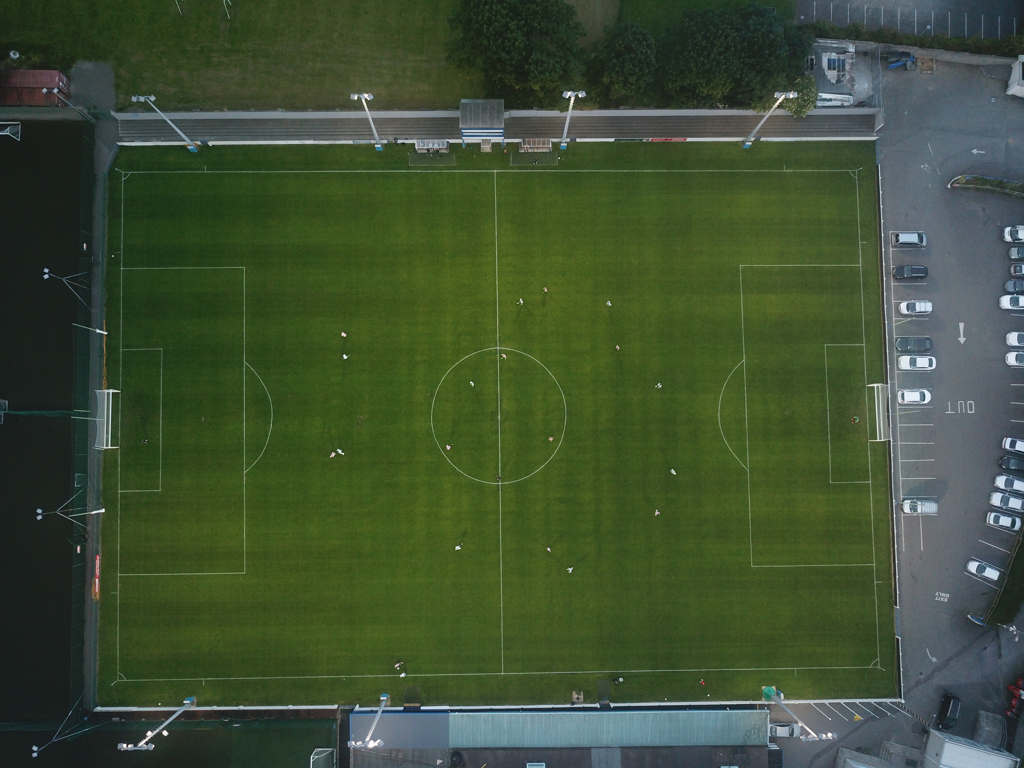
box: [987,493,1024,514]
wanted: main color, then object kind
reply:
white car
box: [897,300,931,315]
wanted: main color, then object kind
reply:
white car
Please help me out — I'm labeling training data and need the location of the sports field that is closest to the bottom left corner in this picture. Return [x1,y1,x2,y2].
[0,719,338,768]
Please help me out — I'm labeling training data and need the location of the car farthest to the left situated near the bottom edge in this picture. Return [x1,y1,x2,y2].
[768,721,802,739]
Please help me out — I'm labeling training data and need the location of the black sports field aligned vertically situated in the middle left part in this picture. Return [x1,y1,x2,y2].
[0,120,95,735]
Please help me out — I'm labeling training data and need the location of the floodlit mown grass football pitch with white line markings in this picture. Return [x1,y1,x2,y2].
[97,140,899,706]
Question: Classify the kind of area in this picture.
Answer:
sports ground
